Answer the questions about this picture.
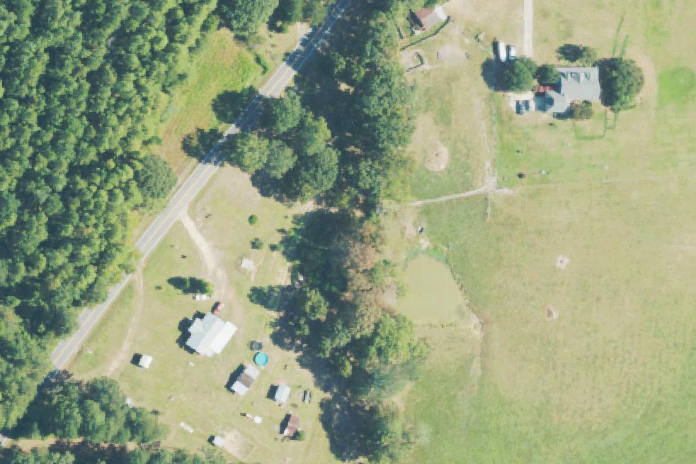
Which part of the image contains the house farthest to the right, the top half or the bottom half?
top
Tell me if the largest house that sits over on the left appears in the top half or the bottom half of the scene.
bottom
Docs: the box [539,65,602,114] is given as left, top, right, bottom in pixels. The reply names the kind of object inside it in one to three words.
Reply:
house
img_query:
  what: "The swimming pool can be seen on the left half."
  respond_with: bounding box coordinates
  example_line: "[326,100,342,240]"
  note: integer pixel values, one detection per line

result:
[254,352,269,367]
